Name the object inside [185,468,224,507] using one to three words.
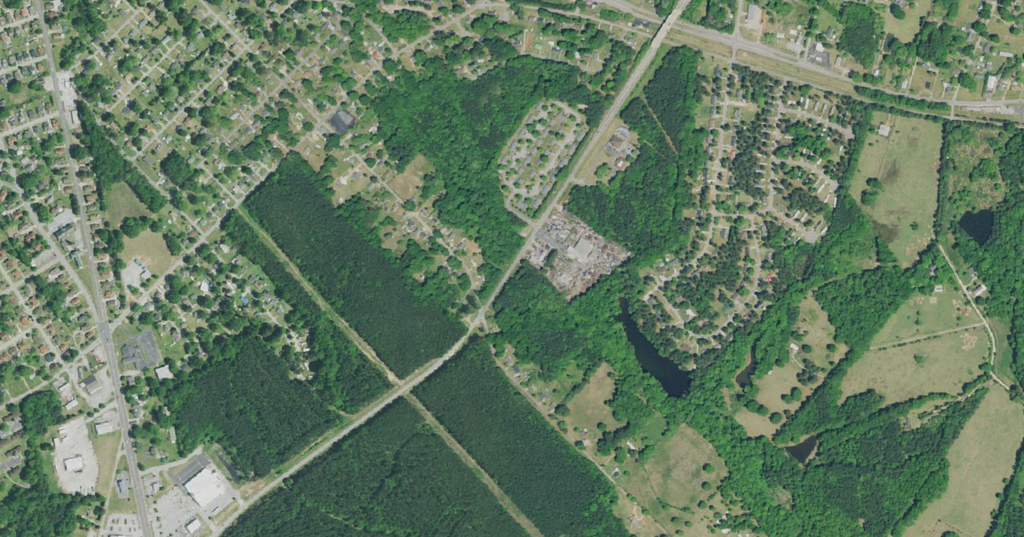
building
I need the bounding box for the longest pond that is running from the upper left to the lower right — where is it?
[614,296,691,397]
